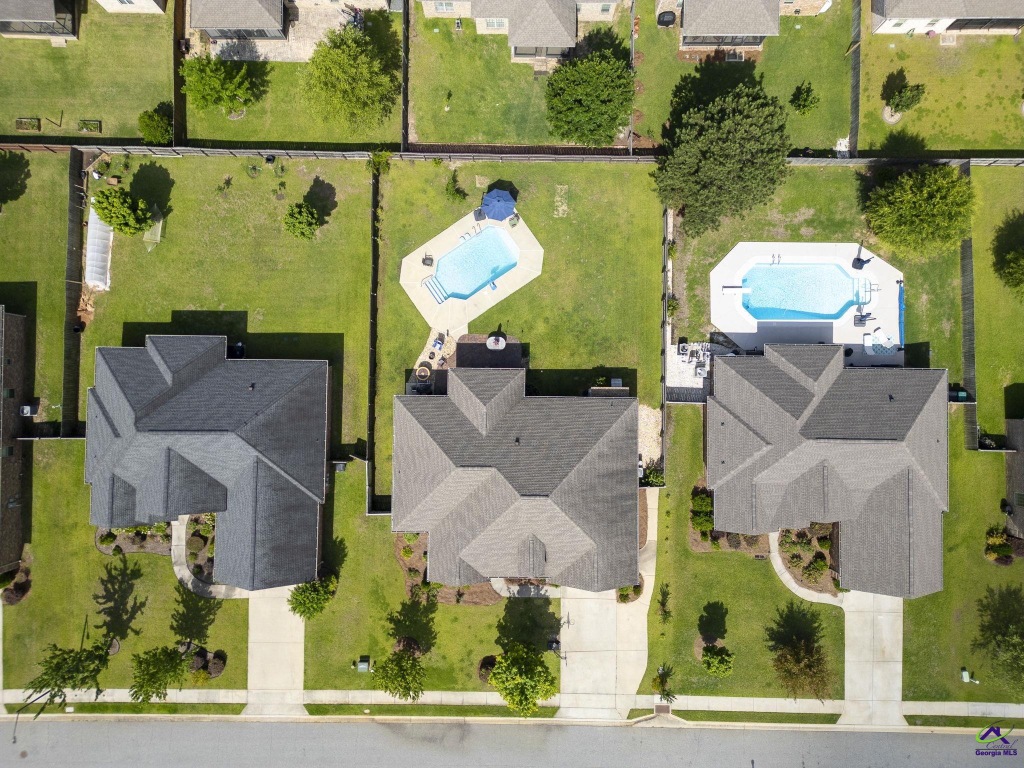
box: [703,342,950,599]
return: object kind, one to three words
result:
house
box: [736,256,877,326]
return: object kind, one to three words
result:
swimming pool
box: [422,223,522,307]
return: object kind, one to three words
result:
swimming pool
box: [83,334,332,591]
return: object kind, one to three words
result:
house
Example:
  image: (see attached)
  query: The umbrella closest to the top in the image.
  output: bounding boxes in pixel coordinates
[473,189,515,222]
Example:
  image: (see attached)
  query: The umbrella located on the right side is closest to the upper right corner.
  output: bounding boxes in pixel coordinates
[852,253,883,270]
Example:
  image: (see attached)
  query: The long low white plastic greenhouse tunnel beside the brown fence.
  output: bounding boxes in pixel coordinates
[83,196,113,295]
